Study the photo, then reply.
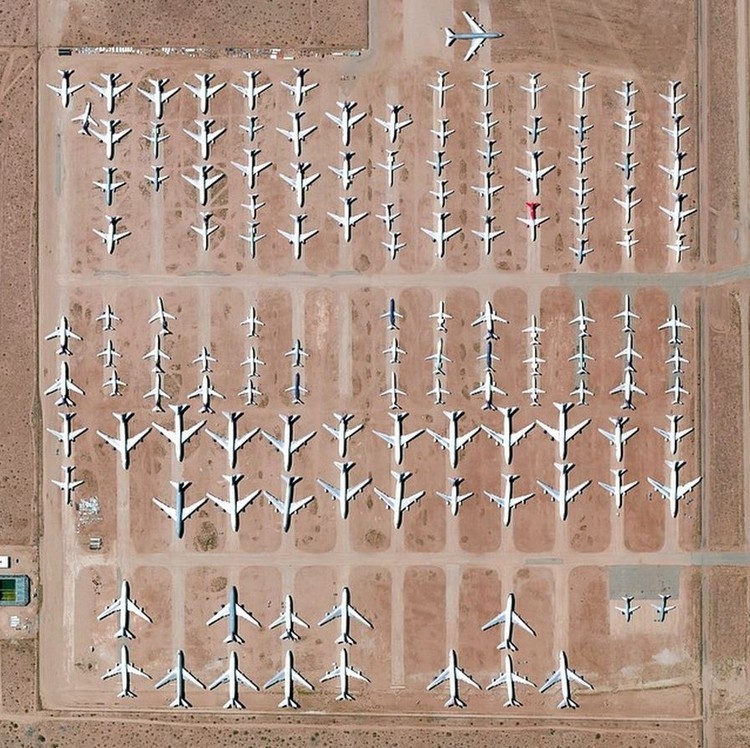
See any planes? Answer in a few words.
Yes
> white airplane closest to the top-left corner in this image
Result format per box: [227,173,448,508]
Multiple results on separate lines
[45,69,83,105]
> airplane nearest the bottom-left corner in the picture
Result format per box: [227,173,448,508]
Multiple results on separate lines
[99,645,149,697]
